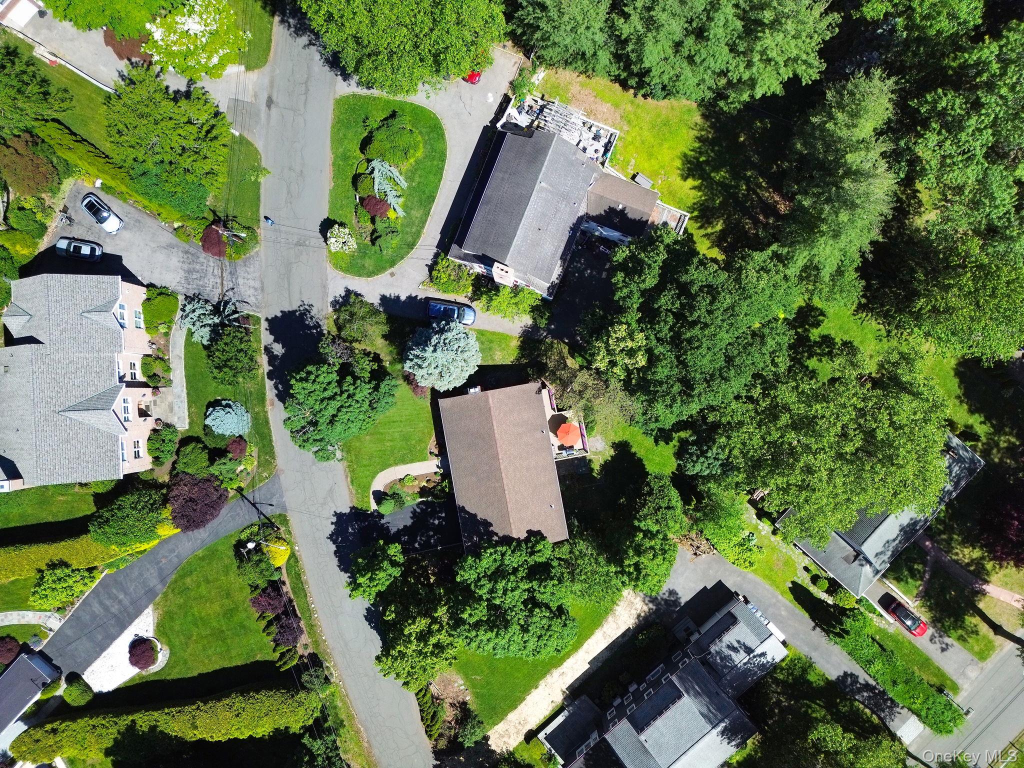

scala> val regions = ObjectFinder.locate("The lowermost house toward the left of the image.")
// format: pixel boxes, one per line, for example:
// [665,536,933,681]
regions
[0,649,63,736]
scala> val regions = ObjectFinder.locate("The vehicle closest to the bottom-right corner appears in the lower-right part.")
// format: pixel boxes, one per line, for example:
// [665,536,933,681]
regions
[885,597,930,641]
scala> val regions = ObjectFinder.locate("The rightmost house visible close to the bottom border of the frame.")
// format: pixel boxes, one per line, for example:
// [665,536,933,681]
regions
[563,580,788,768]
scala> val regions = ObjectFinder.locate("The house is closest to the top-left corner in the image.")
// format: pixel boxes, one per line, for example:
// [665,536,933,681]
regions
[0,273,153,490]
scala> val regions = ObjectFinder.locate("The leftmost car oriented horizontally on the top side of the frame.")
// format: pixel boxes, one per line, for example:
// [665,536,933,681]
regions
[55,235,108,263]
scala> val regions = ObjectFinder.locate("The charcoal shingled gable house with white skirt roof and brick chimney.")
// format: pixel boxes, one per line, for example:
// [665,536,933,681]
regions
[449,130,661,301]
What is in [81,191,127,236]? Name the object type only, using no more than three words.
car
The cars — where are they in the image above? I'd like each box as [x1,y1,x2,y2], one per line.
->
[55,235,108,263]
[81,191,127,236]
[463,64,483,87]
[425,300,477,328]
[885,597,930,641]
